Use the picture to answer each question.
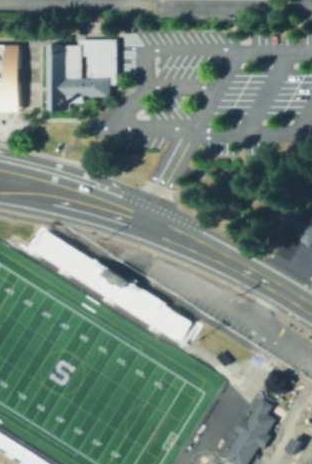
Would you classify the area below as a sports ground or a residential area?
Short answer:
sports ground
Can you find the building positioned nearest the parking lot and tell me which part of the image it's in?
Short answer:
top left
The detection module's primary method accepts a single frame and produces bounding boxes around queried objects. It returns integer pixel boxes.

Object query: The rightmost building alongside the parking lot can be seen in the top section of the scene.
[46,39,118,111]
